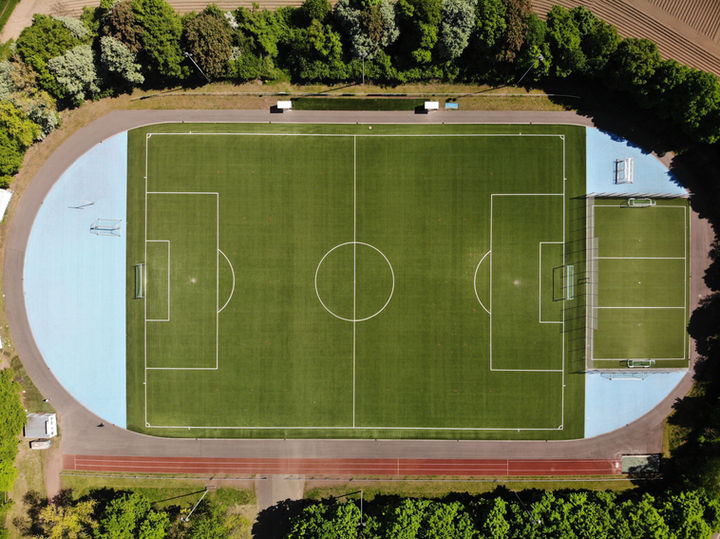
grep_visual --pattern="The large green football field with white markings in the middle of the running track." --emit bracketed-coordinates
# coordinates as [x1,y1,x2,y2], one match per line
[127,123,586,441]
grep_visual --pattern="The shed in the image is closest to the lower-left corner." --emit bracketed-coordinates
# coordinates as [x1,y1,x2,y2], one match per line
[25,413,57,439]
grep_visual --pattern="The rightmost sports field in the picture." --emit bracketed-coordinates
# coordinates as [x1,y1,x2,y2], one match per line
[586,193,691,373]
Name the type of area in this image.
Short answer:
sports ground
